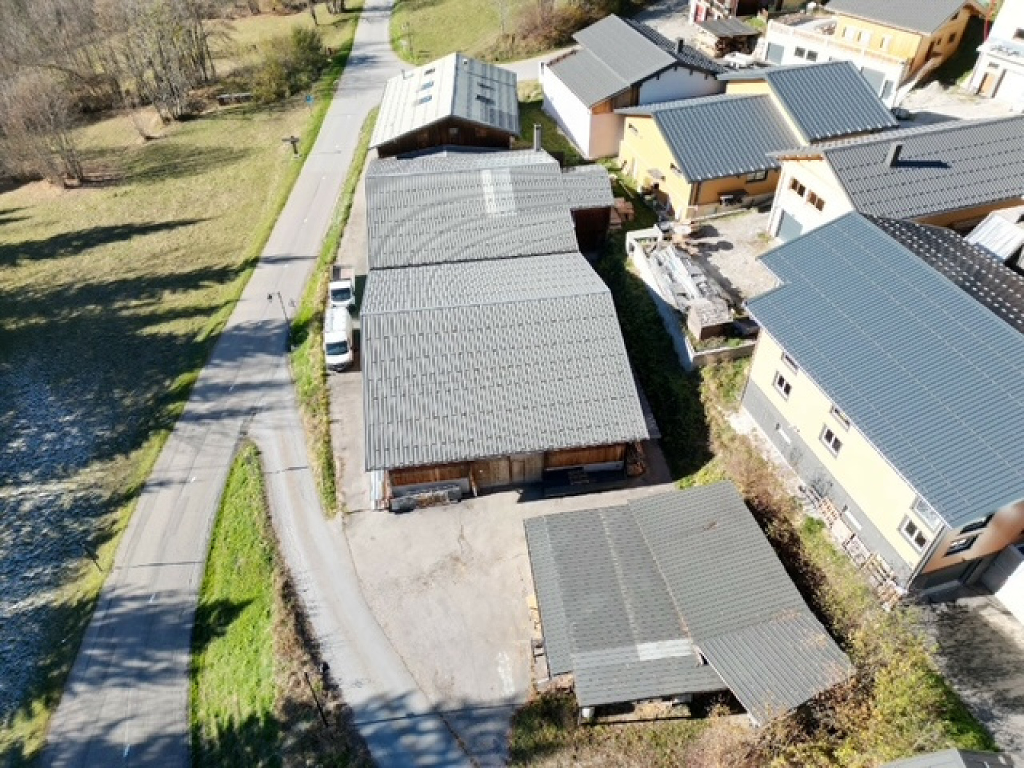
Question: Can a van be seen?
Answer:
Yes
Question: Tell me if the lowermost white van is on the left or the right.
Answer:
left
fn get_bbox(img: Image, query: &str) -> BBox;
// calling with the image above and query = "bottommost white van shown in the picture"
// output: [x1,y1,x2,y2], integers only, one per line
[320,303,355,369]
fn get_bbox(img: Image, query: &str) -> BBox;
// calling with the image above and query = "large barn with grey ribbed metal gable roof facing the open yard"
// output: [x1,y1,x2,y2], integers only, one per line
[360,251,652,513]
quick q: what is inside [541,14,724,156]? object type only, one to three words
house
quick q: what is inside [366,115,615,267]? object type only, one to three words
barn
